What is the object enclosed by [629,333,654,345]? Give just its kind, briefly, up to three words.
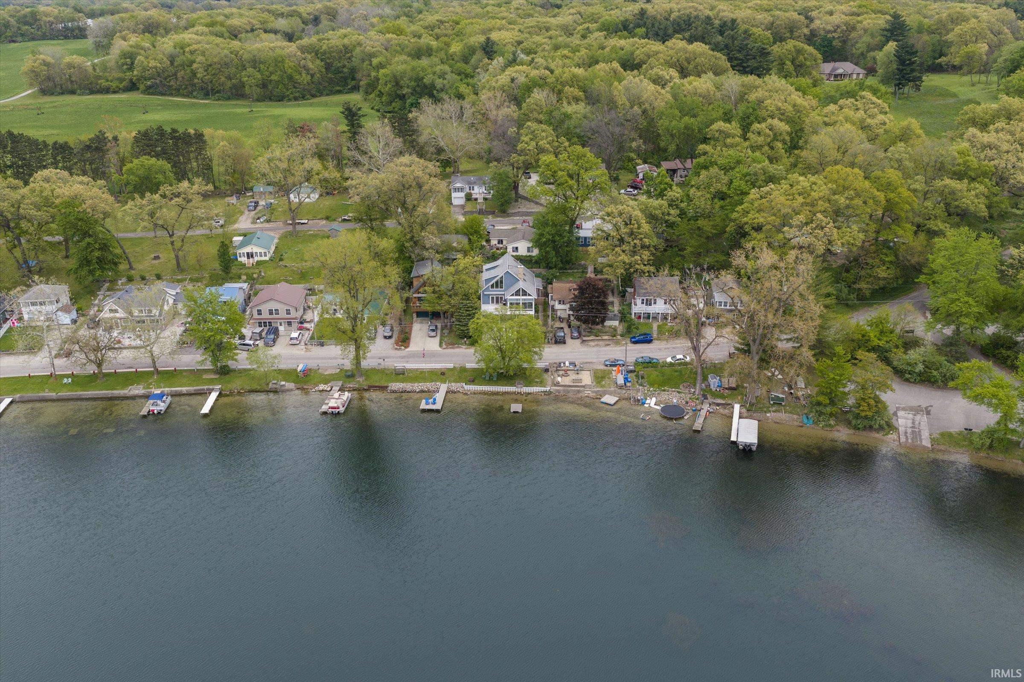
vehicle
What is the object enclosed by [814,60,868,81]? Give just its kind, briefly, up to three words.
house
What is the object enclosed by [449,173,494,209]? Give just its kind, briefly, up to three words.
house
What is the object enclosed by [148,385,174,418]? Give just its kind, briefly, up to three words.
boat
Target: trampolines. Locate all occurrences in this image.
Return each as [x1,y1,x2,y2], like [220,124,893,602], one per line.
[659,400,688,425]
